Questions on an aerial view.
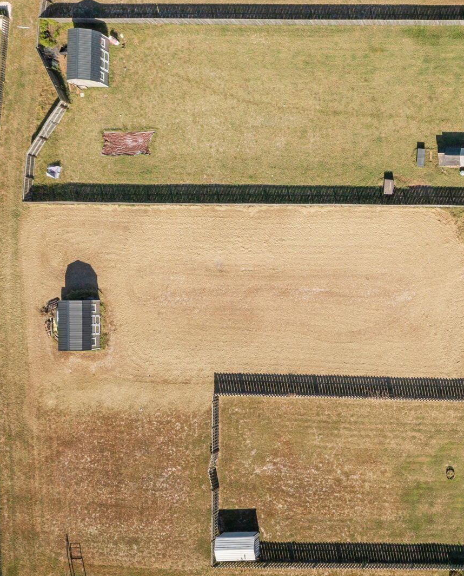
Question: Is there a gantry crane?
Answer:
No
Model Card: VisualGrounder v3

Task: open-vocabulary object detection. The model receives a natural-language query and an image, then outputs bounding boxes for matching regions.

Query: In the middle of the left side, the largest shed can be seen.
[57,300,100,352]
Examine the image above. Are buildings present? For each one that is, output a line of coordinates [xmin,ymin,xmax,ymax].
[57,300,100,352]
[213,533,261,567]
[438,146,464,167]
[66,31,109,92]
